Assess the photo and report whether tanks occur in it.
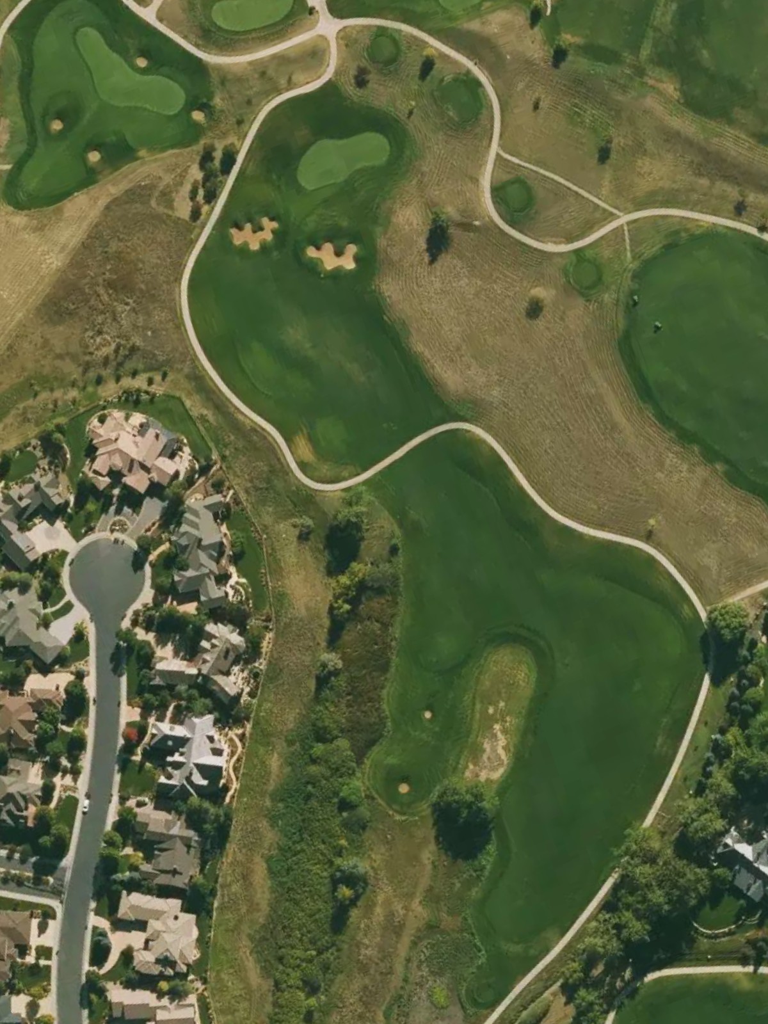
No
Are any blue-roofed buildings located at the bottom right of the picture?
No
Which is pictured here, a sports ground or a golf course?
golf course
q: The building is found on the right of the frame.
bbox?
[715,830,768,903]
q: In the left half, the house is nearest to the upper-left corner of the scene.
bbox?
[89,412,180,493]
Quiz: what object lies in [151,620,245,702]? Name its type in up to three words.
house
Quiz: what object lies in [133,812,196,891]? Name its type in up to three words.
house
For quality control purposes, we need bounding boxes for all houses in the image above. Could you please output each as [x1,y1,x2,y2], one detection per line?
[109,992,196,1024]
[89,412,180,493]
[171,491,227,610]
[0,476,60,570]
[715,830,768,903]
[133,812,196,891]
[0,580,62,665]
[149,713,226,803]
[0,912,30,982]
[151,620,245,702]
[0,996,22,1024]
[116,894,201,979]
[0,688,63,750]
[0,759,41,828]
